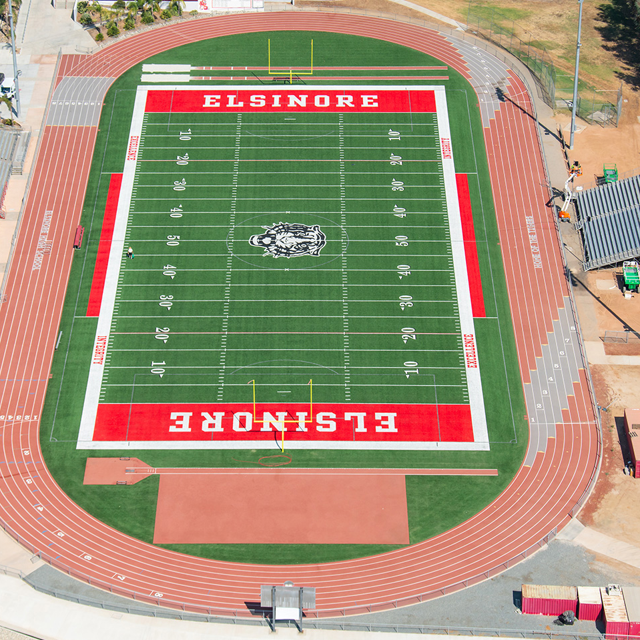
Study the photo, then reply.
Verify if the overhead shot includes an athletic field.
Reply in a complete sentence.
Yes, the image includes an athletic field.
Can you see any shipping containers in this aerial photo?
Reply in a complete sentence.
Yes, the photo shows a shipping container.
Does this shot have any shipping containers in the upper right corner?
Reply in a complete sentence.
No, no shipping container is visible in the upper right corner.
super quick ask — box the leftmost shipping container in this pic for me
[522,585,579,617]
